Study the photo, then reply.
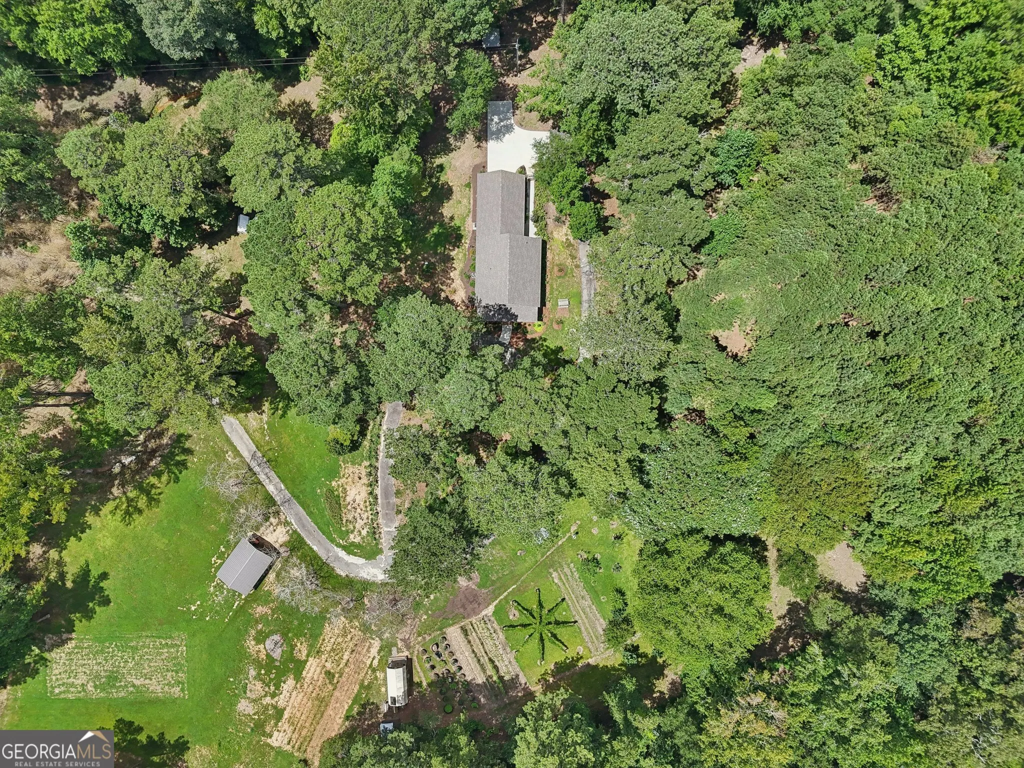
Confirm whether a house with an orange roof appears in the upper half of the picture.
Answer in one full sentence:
No, no house with an orange roof is visible in the upper half of the picture.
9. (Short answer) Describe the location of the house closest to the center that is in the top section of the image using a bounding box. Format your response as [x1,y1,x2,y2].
[470,169,542,323]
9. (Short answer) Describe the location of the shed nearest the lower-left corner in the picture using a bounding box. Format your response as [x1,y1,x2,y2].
[217,527,283,596]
